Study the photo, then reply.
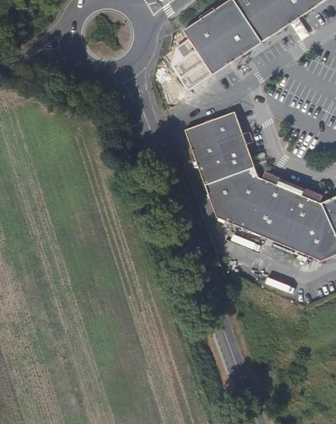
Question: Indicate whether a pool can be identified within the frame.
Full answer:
No, I find no pool anywhere in the image.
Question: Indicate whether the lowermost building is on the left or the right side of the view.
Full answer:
The lowermost building sits on the right side.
